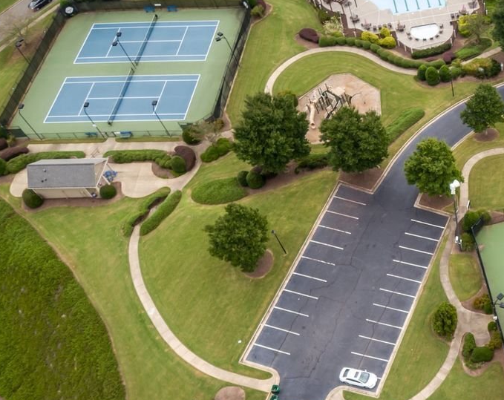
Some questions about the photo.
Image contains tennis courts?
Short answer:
Yes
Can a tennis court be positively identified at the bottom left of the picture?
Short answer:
No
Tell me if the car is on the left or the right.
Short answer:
right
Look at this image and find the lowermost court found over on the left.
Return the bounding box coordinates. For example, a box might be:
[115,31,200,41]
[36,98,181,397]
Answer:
[14,57,223,126]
